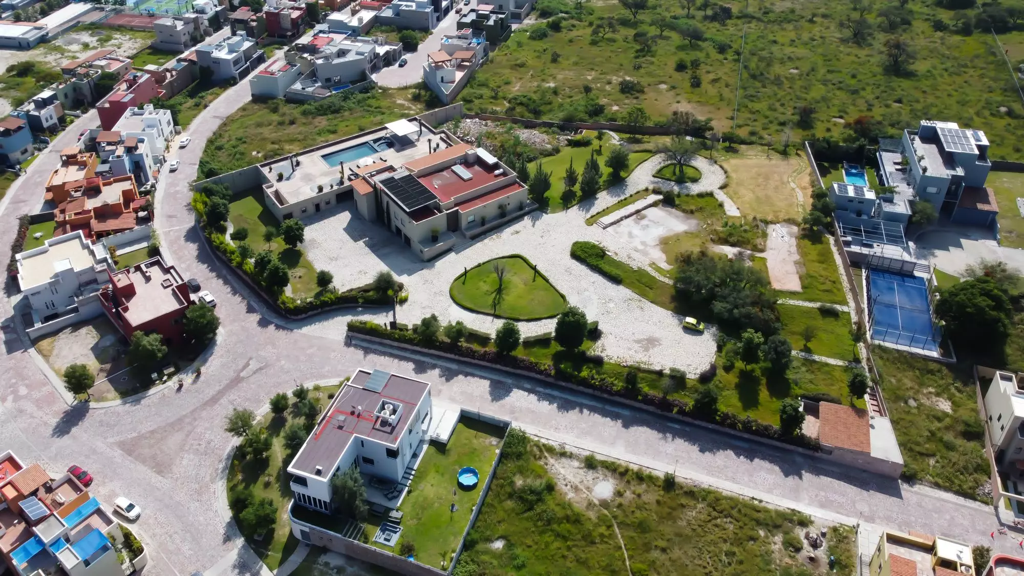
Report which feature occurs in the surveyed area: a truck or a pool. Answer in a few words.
pool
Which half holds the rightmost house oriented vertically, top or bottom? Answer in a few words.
bottom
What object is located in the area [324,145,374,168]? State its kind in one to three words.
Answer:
swimming pool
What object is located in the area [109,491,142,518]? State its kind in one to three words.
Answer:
car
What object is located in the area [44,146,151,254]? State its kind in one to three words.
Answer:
house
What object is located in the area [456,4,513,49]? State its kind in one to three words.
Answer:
building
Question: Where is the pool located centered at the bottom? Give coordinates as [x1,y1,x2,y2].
[456,467,481,492]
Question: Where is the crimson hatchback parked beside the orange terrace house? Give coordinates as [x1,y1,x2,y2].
[63,460,94,485]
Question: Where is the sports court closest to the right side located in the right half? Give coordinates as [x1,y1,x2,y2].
[869,267,939,354]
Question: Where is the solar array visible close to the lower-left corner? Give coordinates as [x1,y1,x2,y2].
[18,497,50,520]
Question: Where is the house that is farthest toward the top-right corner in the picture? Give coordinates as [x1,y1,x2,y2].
[830,118,999,232]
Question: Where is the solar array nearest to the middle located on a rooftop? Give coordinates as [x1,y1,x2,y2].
[380,172,438,211]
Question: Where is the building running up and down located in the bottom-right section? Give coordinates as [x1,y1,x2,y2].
[975,371,1024,488]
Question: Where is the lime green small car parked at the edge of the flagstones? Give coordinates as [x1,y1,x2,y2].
[682,311,706,329]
